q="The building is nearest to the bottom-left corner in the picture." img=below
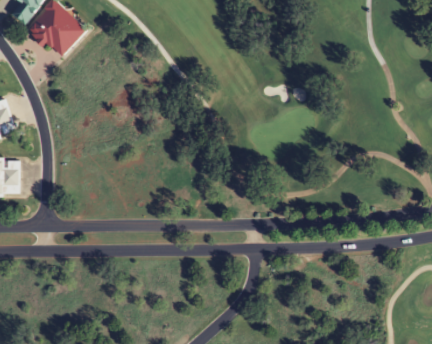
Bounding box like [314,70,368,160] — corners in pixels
[0,157,22,198]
